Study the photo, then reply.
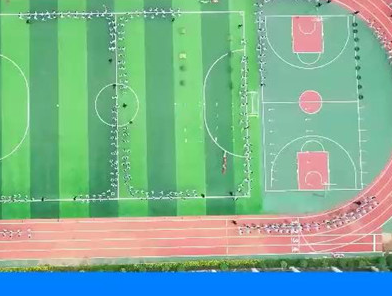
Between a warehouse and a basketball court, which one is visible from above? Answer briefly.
basketball court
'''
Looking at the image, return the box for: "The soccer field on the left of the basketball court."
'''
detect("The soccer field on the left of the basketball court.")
[0,0,263,219]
